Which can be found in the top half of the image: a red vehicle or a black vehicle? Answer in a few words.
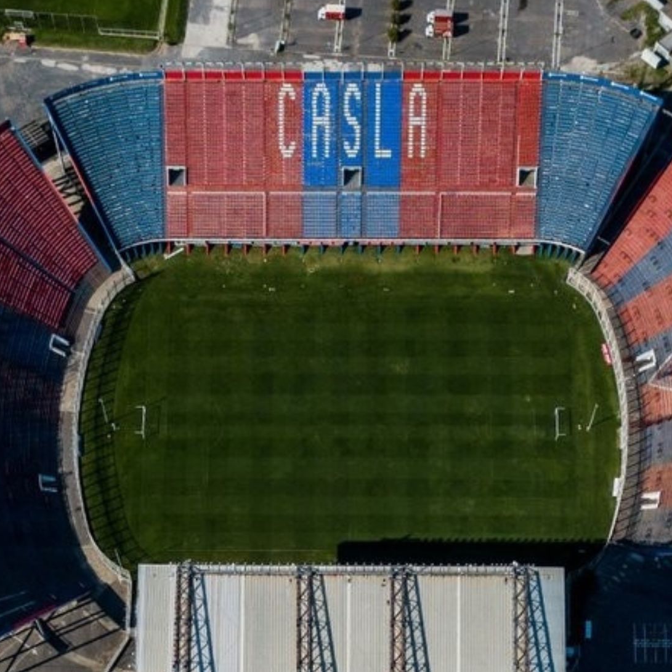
red vehicle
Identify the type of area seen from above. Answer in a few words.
sports ground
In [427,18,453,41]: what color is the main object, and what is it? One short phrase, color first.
red truck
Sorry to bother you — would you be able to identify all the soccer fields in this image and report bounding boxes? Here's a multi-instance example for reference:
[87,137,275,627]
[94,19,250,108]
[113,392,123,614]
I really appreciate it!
[79,245,624,626]
[0,0,162,55]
